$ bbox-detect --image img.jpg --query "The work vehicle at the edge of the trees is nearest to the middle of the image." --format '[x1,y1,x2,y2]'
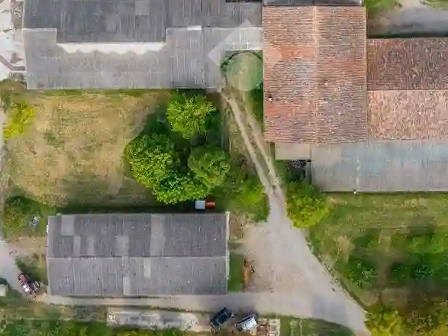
[194,200,214,212]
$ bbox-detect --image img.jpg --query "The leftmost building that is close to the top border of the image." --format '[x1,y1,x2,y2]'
[23,0,226,92]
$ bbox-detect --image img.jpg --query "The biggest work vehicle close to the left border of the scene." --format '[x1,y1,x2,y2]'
[15,272,37,298]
